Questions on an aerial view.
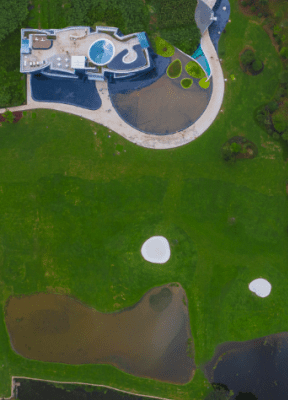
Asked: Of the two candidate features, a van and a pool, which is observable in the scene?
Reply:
pool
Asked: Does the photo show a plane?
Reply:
No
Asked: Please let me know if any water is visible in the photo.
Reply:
Yes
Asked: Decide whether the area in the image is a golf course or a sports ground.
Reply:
golf course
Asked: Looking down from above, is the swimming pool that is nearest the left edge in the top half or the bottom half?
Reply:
top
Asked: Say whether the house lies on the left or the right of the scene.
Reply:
left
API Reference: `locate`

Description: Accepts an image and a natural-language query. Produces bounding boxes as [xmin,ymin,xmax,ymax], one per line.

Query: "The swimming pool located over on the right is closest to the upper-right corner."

[194,46,211,76]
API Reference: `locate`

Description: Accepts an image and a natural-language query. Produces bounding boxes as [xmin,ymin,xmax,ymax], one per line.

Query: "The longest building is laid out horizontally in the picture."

[20,27,153,80]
